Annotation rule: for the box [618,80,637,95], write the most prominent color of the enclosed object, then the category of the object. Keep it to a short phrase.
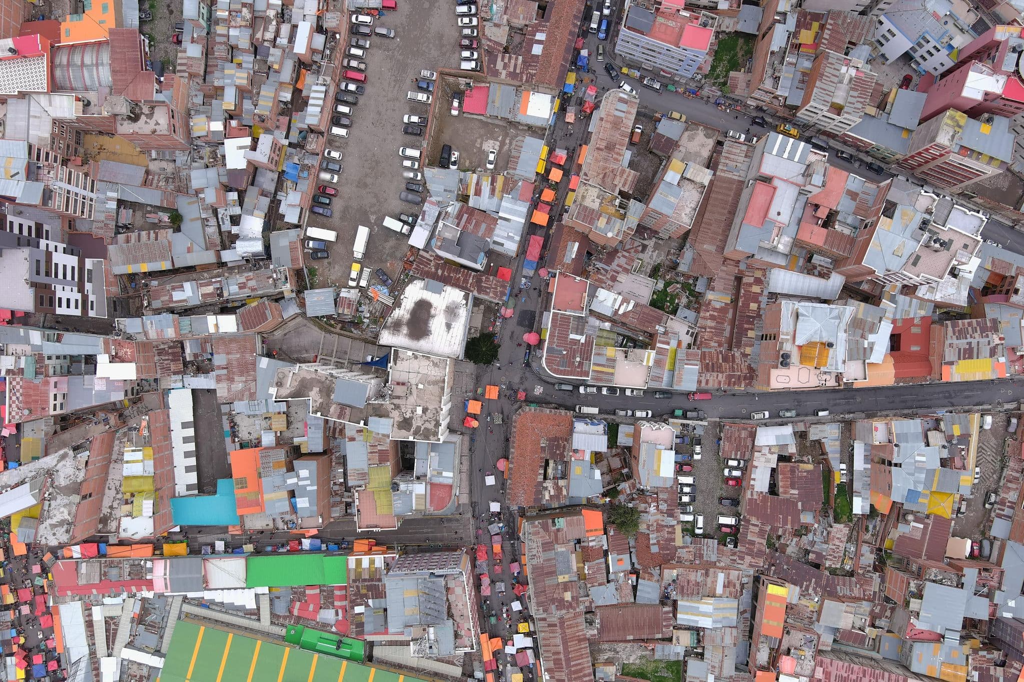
white car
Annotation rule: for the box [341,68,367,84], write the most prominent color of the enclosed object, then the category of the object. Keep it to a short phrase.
red vehicle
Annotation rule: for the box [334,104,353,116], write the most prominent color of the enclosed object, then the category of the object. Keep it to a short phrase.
white vehicle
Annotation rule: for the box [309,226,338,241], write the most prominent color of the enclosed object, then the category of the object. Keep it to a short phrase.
white vehicle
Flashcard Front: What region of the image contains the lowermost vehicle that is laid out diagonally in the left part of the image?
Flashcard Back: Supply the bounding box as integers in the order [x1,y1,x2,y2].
[374,267,394,288]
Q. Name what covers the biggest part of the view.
buildings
